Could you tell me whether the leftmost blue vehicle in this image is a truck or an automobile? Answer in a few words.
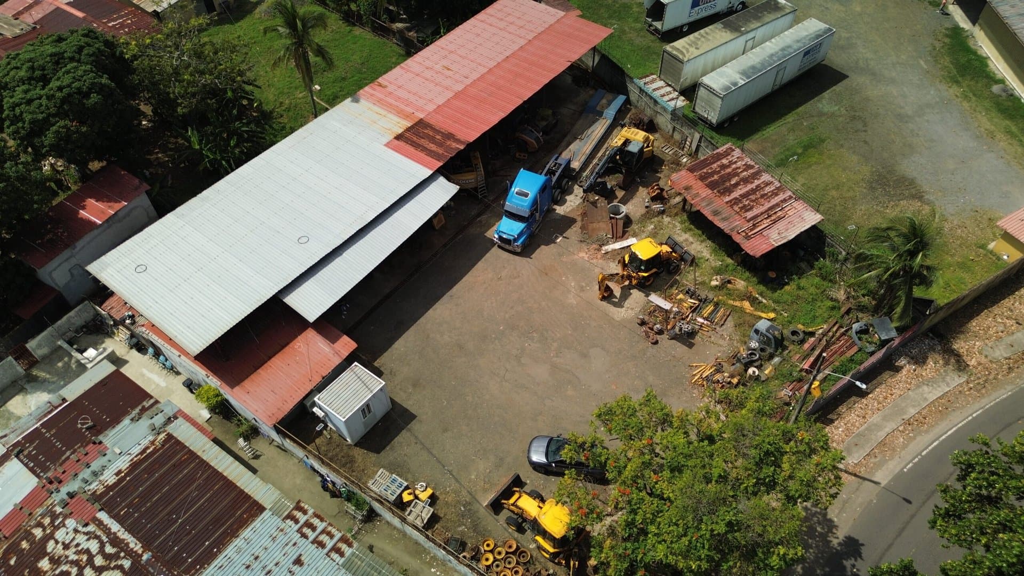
truck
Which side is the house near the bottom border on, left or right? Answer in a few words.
left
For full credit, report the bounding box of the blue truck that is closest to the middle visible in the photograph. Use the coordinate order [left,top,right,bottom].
[493,165,574,253]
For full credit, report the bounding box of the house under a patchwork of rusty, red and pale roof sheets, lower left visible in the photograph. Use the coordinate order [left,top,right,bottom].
[0,359,399,576]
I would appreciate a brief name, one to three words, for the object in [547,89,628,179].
trailer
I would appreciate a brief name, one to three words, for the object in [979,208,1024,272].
shed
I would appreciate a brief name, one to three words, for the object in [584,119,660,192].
work vehicle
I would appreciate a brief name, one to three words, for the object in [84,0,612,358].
shed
